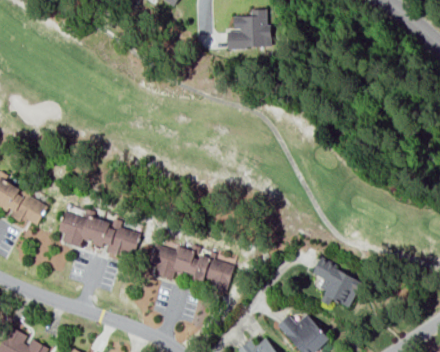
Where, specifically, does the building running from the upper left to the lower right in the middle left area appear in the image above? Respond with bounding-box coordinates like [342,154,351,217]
[0,180,48,226]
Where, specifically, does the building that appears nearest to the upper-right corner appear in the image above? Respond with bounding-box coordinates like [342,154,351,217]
[228,8,268,49]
